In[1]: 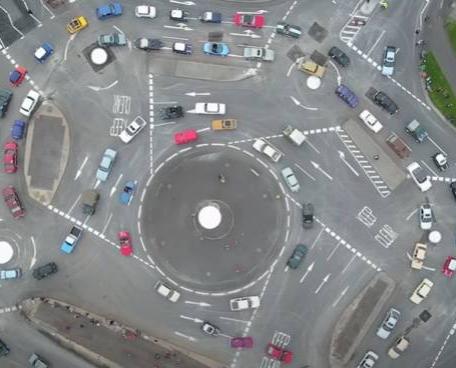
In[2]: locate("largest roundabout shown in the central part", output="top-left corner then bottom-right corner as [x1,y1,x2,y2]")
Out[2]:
[138,144,290,296]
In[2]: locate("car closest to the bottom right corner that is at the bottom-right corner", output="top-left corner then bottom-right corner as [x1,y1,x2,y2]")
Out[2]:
[386,335,410,361]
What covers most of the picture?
paved ground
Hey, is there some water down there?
No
